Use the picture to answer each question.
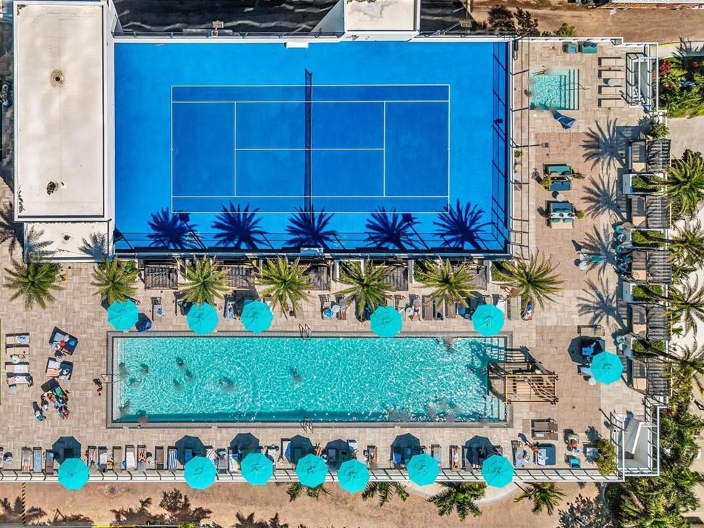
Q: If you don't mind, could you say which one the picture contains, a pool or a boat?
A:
pool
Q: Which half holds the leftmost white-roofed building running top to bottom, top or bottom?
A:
top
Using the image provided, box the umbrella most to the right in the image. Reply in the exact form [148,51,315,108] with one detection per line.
[587,354,623,385]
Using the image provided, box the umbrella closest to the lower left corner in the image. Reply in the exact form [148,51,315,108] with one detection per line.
[55,458,87,489]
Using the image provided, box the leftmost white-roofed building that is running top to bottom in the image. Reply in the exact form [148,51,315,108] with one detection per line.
[14,0,115,220]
